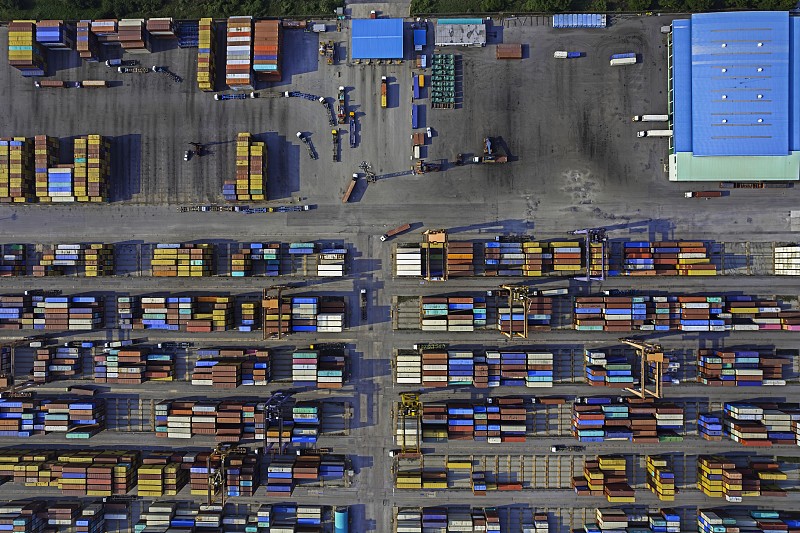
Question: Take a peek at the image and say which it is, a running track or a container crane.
container crane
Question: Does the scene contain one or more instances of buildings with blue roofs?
Yes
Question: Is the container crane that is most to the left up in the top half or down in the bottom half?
bottom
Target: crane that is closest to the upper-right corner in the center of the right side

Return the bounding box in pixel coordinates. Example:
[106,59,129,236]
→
[568,230,606,281]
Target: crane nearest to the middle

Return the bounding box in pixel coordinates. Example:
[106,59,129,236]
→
[423,230,448,281]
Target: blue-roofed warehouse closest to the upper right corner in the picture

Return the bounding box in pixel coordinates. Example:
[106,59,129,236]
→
[662,11,800,184]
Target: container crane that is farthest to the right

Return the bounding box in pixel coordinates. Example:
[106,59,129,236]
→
[618,341,664,398]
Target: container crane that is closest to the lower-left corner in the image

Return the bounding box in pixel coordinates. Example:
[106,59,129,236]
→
[0,339,49,392]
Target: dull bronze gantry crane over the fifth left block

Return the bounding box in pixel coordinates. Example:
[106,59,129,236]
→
[207,440,245,506]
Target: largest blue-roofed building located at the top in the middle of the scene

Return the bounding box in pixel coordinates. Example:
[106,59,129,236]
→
[352,19,403,64]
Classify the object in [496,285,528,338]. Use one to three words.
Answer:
container crane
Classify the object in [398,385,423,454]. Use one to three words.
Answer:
container crane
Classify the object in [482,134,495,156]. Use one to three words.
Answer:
vehicle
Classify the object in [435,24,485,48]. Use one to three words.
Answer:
building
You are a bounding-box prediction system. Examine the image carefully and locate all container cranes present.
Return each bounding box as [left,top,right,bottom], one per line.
[262,286,296,340]
[207,440,245,506]
[423,230,448,281]
[568,230,606,281]
[0,339,49,392]
[398,385,423,454]
[264,393,298,449]
[496,285,528,338]
[618,341,664,398]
